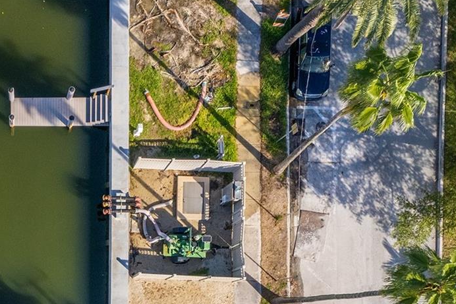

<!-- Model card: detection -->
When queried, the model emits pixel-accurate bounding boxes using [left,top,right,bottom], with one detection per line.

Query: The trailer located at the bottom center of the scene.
[164,226,236,264]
